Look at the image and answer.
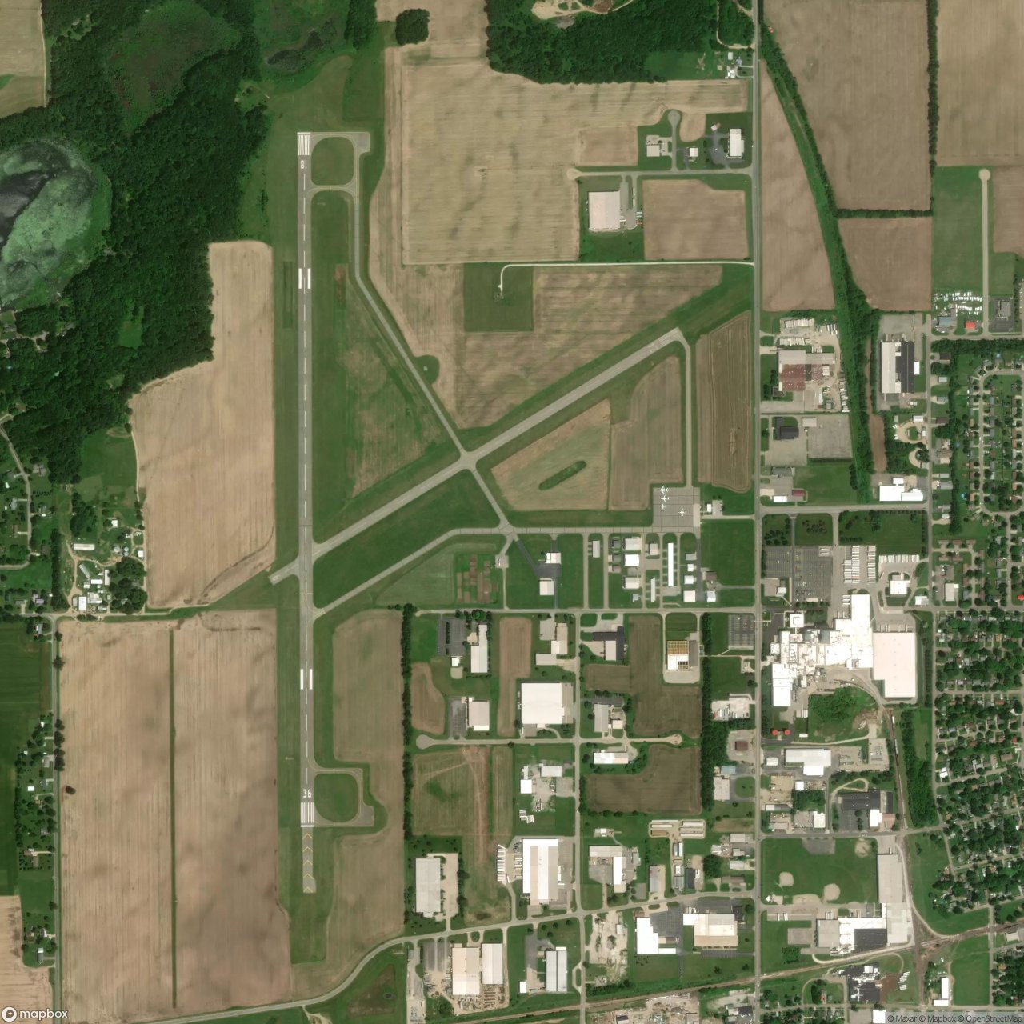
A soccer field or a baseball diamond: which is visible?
baseball diamond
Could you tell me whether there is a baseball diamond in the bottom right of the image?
Yes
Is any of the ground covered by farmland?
Yes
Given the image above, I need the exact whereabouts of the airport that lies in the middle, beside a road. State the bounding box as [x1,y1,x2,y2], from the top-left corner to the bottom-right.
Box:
[269,132,707,893]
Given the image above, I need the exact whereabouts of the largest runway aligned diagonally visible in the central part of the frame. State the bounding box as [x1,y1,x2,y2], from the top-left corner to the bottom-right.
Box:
[269,327,676,585]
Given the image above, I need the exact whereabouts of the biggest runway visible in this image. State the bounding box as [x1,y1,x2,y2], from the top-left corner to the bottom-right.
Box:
[298,132,314,827]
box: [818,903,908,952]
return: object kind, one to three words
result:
building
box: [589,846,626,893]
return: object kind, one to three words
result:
building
